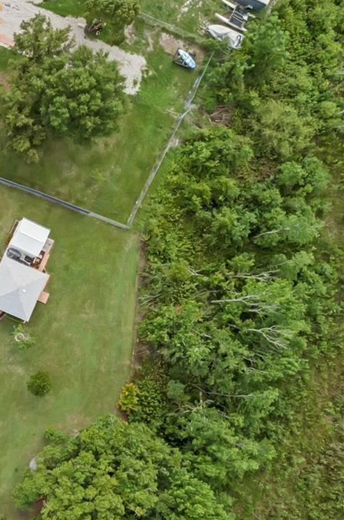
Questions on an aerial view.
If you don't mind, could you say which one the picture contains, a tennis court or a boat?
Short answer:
boat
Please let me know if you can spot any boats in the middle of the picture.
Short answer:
No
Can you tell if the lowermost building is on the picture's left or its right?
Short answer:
left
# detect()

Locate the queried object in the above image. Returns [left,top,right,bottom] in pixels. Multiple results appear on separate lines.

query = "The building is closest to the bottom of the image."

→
[0,255,48,322]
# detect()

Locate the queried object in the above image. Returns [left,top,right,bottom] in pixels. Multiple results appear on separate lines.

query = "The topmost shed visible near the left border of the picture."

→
[8,217,51,257]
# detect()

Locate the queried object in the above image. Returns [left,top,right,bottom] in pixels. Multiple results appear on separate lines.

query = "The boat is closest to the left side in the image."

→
[178,48,195,66]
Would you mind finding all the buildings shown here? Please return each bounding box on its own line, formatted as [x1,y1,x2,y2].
[0,255,48,322]
[8,217,51,257]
